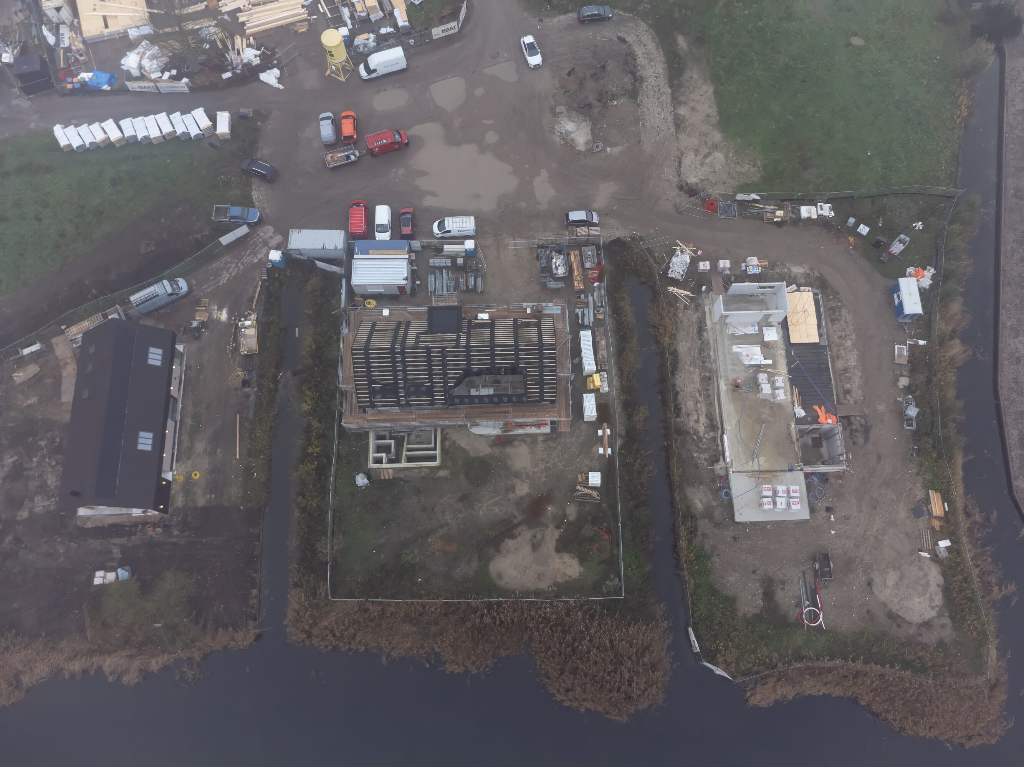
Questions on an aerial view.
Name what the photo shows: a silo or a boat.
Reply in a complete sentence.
Visible in the photo is a silo.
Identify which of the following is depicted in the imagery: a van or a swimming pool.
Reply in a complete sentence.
I can see a van in this picture.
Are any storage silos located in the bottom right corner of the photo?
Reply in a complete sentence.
No, in the bottom right corner of the photo there is no storage silo.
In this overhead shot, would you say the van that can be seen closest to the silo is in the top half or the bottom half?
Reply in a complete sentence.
The top half of the photo is where the van that can be seen closest to the silo is.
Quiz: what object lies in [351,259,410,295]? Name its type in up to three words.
building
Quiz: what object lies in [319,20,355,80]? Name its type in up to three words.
silo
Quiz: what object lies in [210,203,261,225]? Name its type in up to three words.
truck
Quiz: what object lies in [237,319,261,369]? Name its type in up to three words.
trailer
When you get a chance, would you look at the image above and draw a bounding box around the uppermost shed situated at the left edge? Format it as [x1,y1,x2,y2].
[42,0,75,33]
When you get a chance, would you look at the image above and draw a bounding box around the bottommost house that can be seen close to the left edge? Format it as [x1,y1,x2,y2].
[49,320,191,529]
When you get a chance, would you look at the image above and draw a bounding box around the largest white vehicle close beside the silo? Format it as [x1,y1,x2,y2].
[357,47,407,82]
